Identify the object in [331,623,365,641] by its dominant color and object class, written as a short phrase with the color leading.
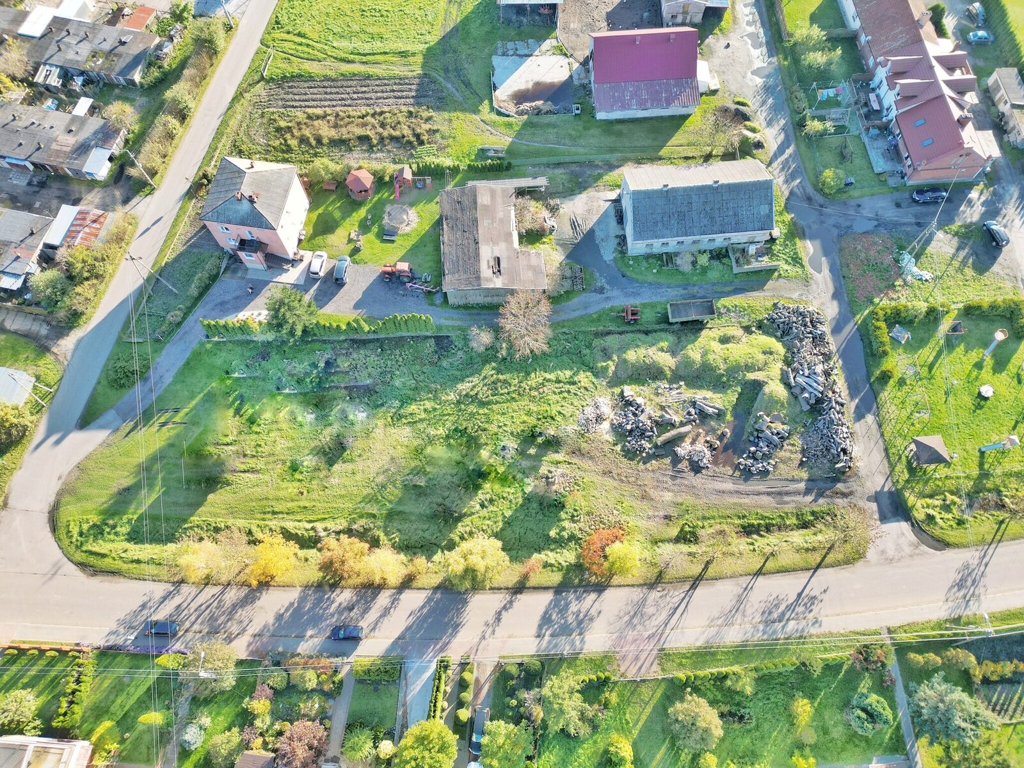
blue car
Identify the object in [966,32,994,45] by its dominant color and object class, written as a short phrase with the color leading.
blue vehicle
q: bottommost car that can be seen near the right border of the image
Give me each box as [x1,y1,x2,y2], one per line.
[981,222,1012,248]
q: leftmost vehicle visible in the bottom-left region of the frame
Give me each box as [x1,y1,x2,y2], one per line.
[144,619,181,637]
